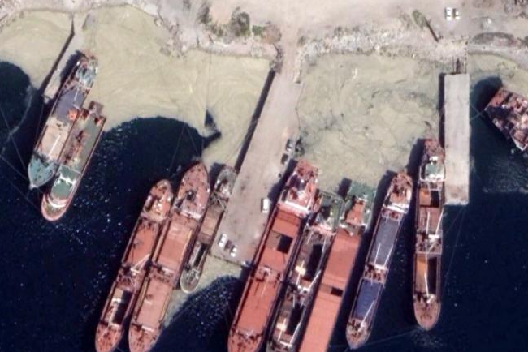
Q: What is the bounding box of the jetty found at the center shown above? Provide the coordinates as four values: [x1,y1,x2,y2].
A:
[216,42,304,268]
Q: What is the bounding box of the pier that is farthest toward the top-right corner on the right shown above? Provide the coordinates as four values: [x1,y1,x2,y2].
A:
[444,74,469,206]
